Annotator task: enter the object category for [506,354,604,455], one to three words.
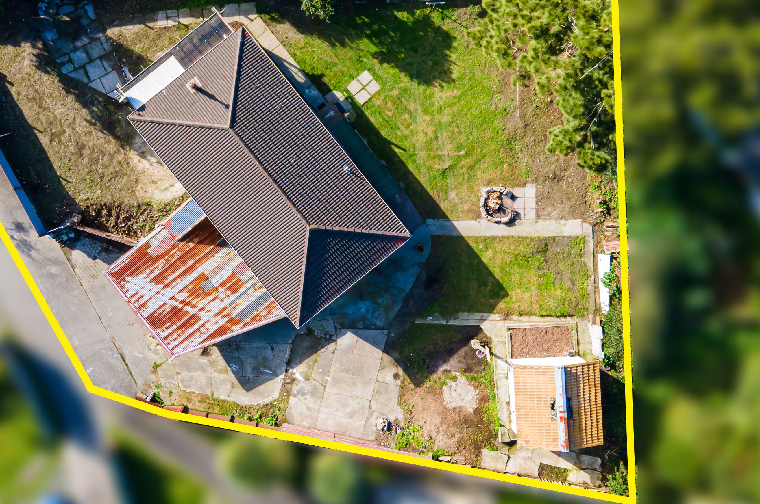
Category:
shed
